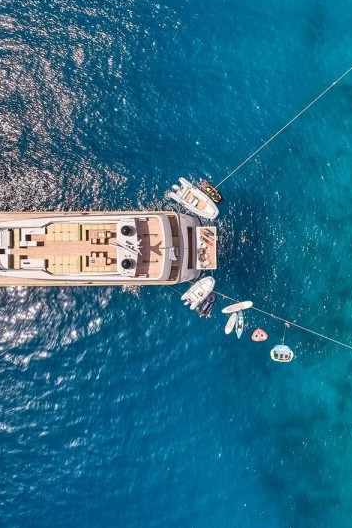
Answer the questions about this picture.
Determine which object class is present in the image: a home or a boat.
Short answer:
boat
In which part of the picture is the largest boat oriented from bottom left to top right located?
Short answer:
center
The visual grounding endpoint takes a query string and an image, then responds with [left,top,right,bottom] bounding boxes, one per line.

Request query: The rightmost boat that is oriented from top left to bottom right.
[199,180,222,200]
